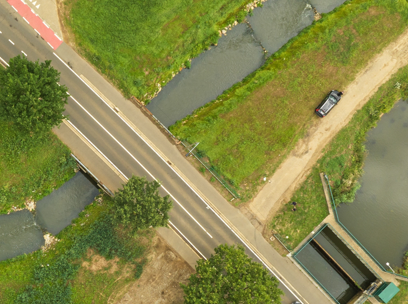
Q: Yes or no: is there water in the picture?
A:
Yes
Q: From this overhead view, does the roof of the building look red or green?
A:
green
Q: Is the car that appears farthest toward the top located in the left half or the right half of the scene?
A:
right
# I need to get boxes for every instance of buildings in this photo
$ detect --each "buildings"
[371,282,400,303]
